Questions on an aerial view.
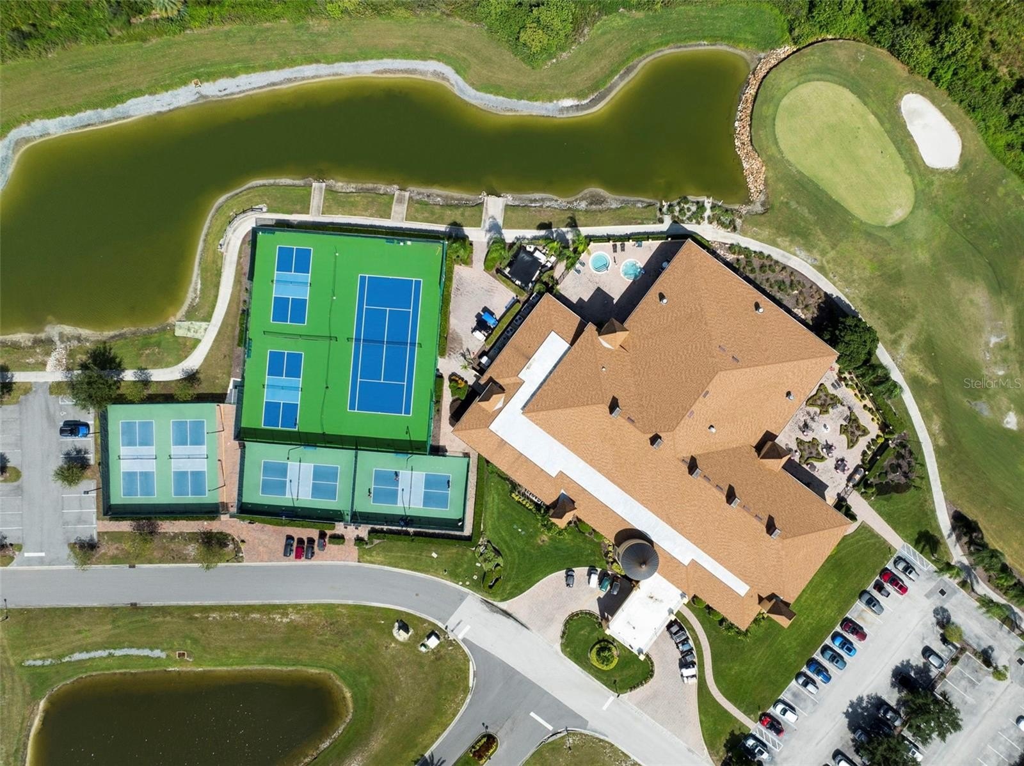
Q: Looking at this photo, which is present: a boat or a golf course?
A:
golf course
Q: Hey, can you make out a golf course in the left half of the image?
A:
No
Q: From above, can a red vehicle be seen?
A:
Yes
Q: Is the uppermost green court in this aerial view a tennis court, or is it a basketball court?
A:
tennis court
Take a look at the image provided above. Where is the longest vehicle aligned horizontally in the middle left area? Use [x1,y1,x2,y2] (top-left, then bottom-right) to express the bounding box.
[57,423,89,437]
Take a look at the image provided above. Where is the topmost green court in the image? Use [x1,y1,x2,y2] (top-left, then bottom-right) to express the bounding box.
[240,230,446,455]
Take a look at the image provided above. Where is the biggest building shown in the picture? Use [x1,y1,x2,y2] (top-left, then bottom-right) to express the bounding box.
[452,239,853,653]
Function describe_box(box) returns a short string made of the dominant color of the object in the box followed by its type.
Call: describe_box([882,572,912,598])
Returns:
red car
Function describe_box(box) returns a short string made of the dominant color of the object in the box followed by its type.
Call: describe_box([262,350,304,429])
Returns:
blue sports court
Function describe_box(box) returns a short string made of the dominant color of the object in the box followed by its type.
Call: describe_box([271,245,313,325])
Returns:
blue sports court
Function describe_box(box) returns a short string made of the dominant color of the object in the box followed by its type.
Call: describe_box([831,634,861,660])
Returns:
blue car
